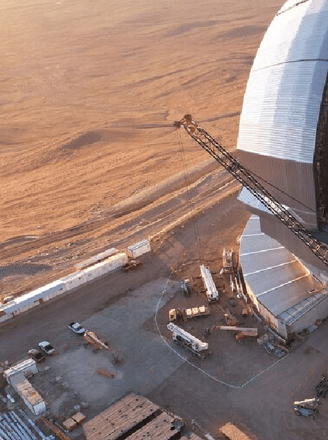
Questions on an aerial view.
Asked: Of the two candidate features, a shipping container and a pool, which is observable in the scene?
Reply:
shipping container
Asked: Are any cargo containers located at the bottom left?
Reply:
Yes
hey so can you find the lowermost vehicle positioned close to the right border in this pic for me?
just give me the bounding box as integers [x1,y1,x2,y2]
[276,397,318,418]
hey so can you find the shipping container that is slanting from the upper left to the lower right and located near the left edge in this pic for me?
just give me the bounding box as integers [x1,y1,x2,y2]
[5,364,51,414]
